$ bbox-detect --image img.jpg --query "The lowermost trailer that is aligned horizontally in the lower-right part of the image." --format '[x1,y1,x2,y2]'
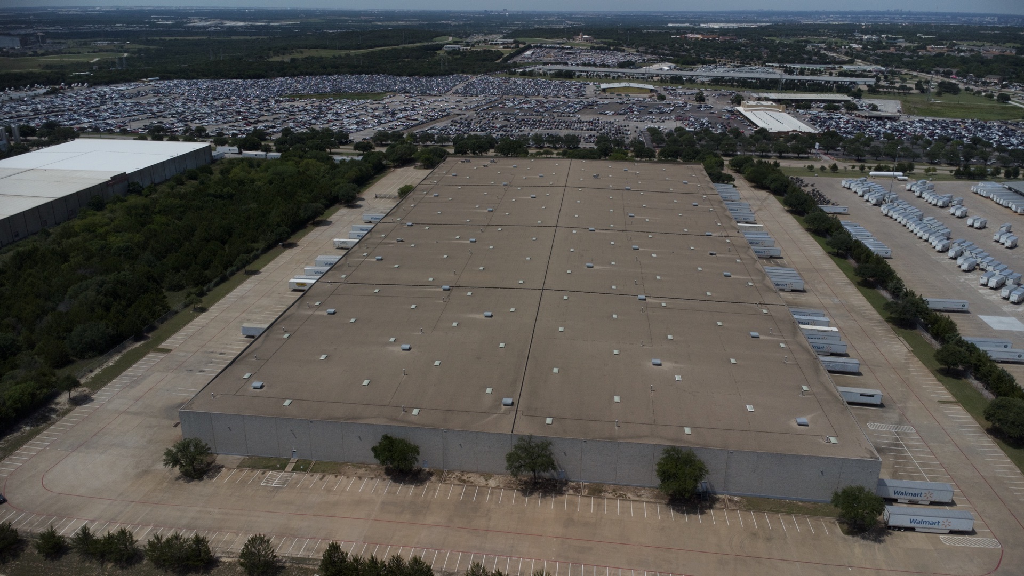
[885,505,976,533]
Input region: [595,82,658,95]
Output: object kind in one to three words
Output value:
shed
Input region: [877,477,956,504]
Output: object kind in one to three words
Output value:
trailer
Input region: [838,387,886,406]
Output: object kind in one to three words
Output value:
trailer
